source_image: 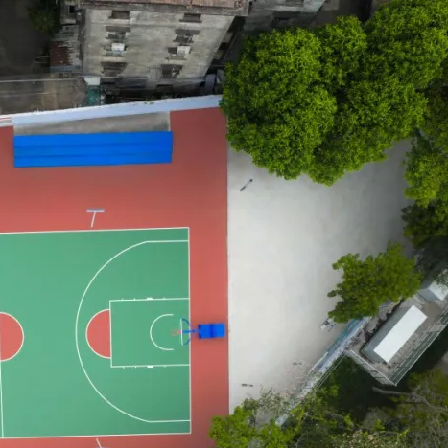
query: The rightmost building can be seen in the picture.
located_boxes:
[415,281,448,303]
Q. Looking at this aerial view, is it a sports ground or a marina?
sports ground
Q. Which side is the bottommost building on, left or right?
right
